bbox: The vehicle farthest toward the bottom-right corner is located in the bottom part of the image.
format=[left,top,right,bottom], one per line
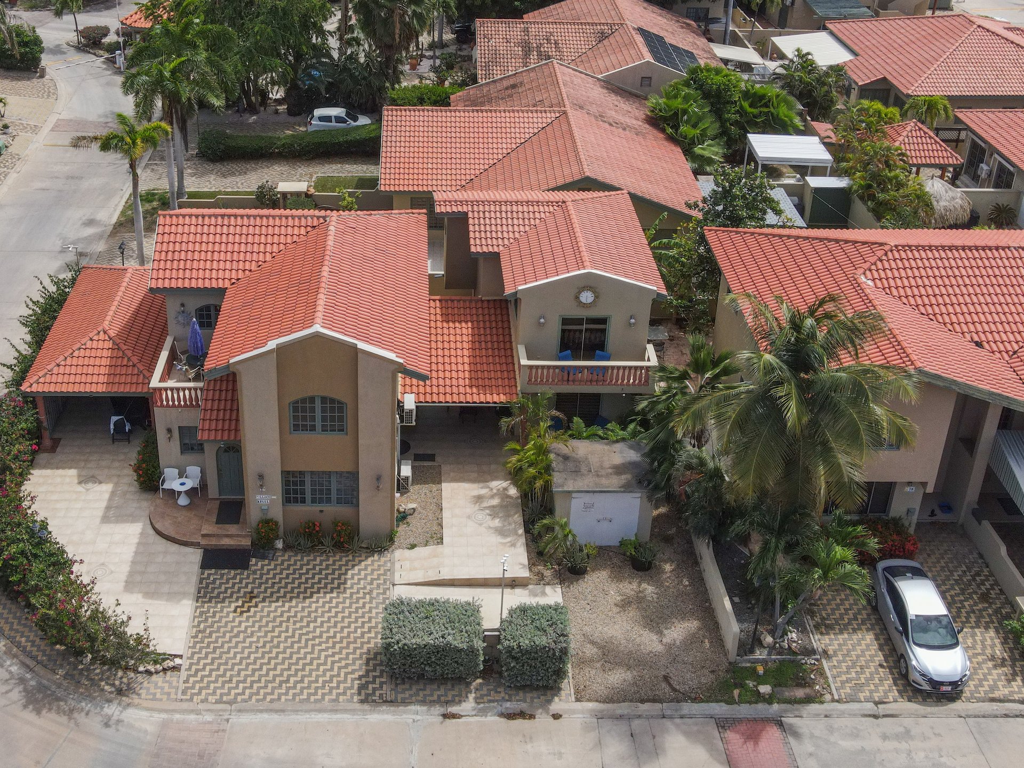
[868,560,982,698]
